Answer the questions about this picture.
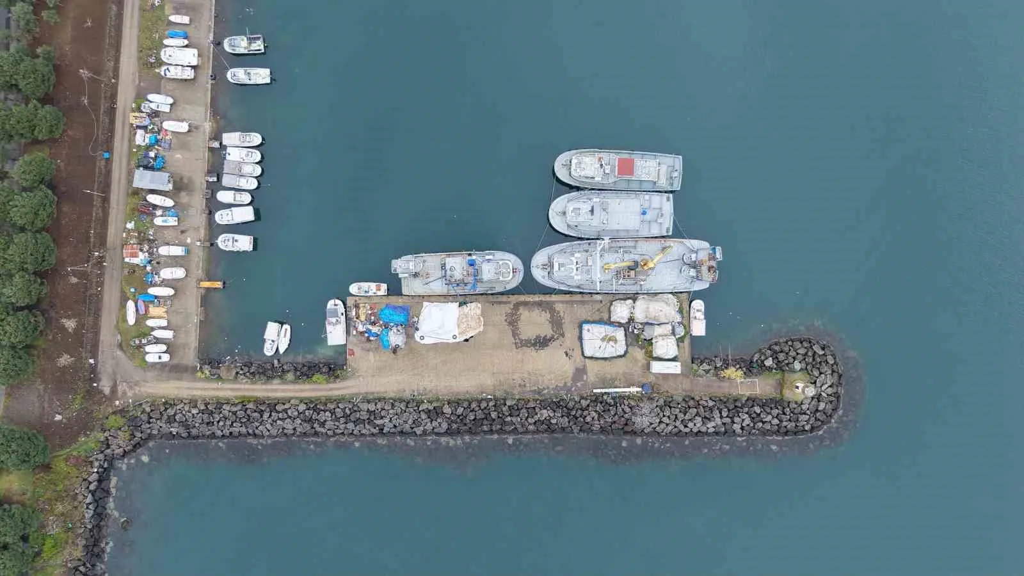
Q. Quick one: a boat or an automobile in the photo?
boat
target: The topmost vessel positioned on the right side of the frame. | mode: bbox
[555,149,683,191]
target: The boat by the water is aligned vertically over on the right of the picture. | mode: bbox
[691,300,706,336]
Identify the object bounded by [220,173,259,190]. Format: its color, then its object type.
white boat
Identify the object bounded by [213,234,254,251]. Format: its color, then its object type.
white boat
